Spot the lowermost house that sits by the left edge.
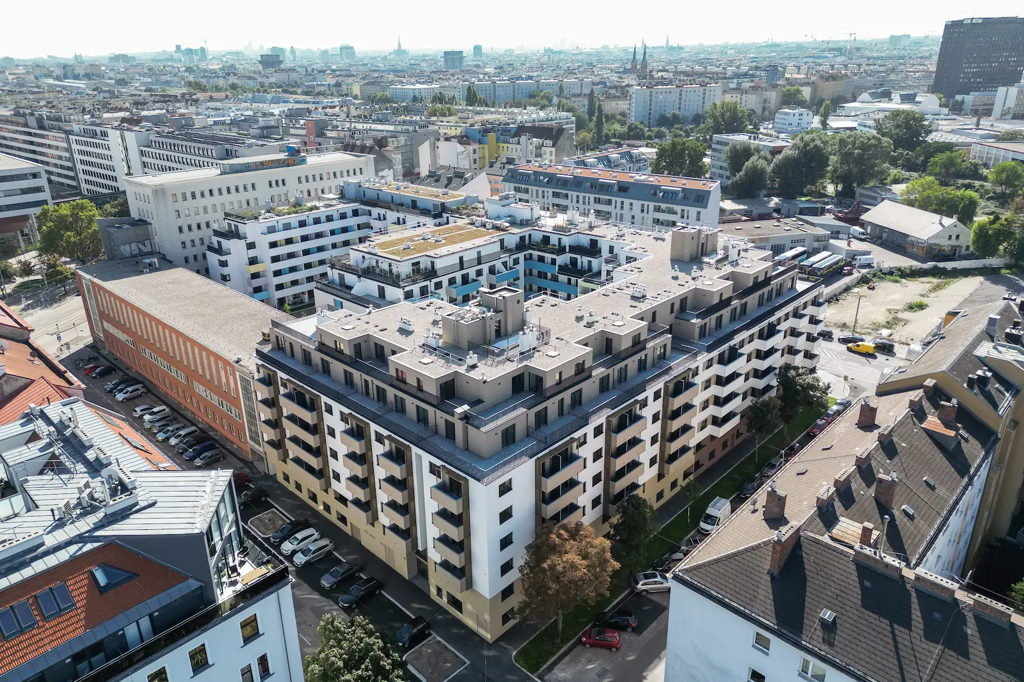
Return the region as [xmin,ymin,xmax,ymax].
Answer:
[0,395,309,682]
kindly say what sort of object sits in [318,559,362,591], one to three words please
car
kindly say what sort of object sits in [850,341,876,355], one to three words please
vehicle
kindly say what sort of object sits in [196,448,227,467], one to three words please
car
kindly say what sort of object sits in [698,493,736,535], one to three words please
vehicle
